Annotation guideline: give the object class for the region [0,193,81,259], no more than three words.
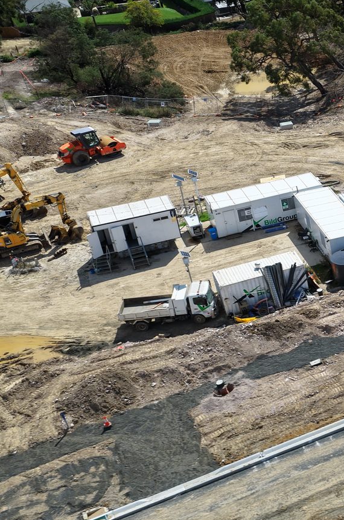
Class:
work vehicle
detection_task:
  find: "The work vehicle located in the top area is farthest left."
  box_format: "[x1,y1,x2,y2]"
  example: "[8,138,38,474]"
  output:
[0,163,33,201]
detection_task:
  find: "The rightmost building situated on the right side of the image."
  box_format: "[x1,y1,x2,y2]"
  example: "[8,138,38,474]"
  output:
[293,186,344,259]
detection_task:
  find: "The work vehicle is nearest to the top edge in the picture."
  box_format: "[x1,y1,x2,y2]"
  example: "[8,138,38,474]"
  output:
[55,126,127,165]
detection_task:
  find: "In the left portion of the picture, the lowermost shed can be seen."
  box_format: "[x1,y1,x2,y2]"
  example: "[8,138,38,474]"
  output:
[87,196,182,258]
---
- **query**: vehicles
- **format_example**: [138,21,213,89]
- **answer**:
[117,279,221,330]
[0,163,33,201]
[55,126,127,165]
[0,193,81,259]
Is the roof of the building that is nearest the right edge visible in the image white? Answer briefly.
Yes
